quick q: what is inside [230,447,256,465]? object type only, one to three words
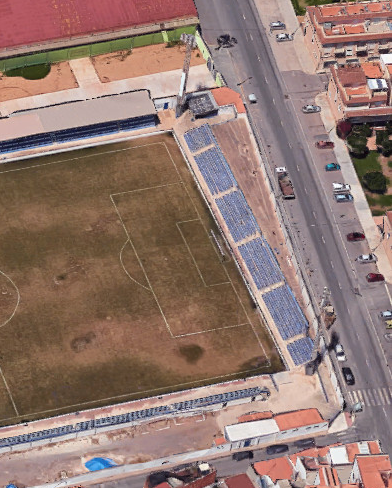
vehicle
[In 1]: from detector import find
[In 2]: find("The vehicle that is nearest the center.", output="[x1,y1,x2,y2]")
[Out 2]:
[276,166,296,198]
